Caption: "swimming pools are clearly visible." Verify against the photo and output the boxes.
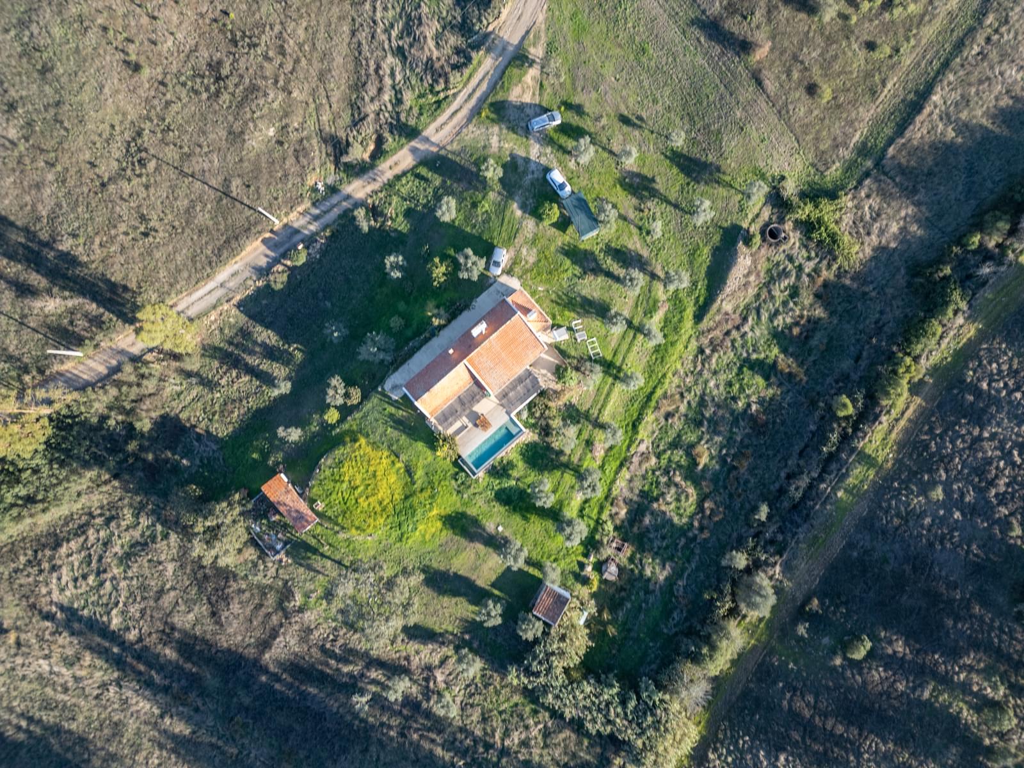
[458,415,526,475]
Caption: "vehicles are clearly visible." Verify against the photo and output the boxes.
[546,166,572,198]
[528,110,562,131]
[489,246,506,276]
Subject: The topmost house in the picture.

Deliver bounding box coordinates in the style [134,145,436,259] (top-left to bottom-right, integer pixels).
[402,288,552,420]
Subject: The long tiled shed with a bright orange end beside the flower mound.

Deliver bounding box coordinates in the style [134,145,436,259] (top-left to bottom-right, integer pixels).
[261,472,318,533]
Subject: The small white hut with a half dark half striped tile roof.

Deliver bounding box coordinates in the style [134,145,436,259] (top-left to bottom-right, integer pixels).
[532,581,571,625]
